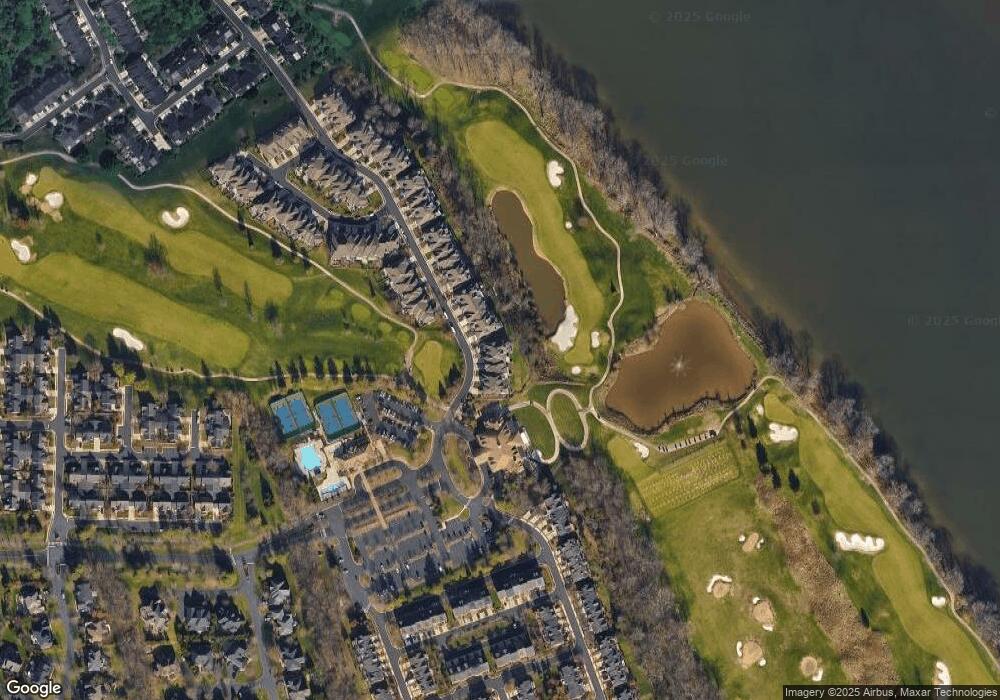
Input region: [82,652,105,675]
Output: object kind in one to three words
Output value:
house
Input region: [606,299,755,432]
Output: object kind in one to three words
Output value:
pond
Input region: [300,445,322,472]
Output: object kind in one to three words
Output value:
swimming pool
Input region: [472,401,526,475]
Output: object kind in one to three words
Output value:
building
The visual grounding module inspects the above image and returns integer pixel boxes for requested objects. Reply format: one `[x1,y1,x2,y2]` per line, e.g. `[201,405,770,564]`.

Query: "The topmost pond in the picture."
[493,190,565,336]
